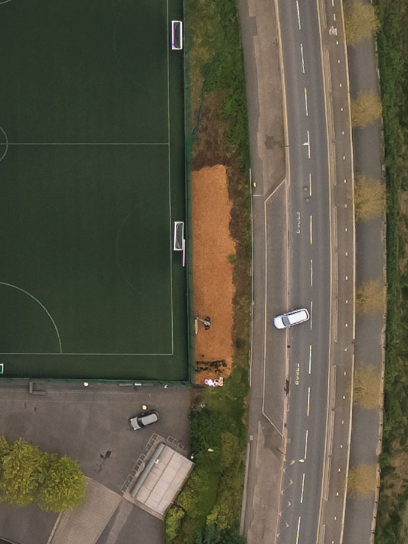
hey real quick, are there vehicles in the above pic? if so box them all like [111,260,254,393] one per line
[274,308,311,330]
[128,410,160,431]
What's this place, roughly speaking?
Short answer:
sports ground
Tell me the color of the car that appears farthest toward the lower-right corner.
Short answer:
white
